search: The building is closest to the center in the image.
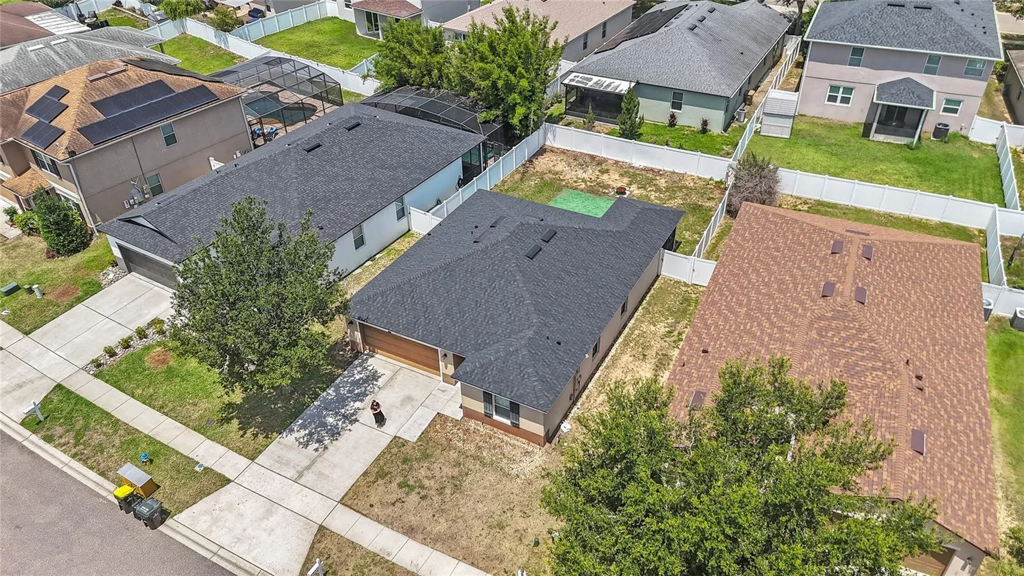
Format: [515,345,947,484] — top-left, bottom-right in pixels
[334,189,685,447]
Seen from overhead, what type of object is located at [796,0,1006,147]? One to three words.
house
